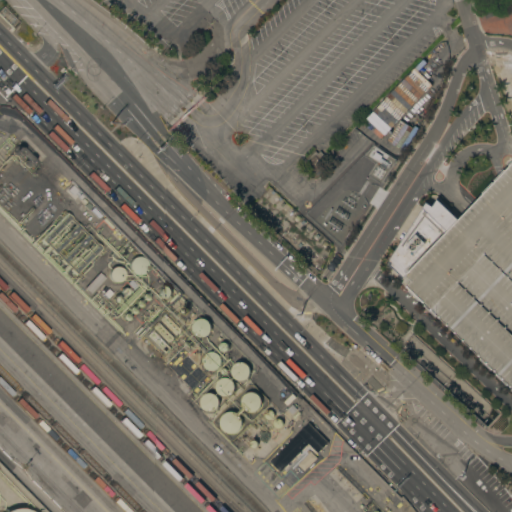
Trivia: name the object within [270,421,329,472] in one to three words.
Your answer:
building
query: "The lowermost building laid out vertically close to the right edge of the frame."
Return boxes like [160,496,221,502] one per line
[402,160,512,390]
